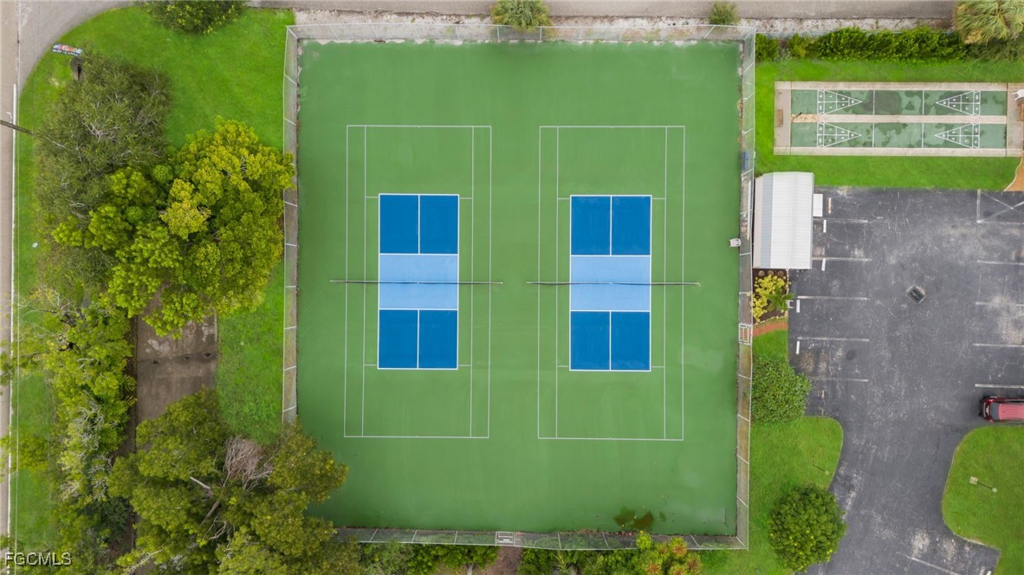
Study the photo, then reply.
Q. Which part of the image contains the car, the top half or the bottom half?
bottom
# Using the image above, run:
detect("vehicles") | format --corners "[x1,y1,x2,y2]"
[986,396,1024,424]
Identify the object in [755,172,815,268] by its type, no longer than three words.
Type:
shed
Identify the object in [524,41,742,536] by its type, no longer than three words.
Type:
sports court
